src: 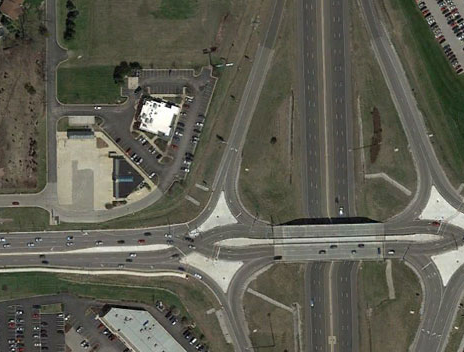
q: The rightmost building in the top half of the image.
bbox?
[139,99,184,136]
